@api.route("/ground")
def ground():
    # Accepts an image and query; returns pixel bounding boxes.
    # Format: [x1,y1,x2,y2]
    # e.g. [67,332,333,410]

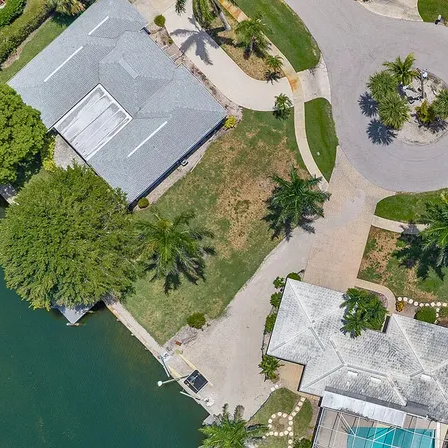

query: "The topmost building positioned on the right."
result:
[267,278,448,427]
